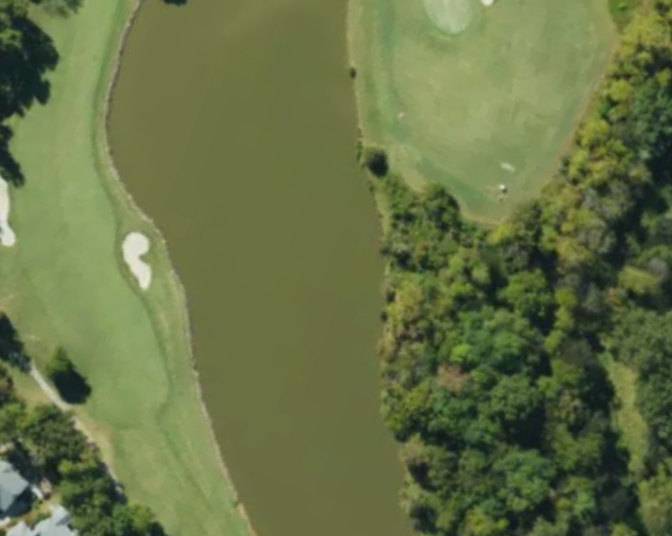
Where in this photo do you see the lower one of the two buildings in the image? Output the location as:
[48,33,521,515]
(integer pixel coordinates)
[6,503,74,536]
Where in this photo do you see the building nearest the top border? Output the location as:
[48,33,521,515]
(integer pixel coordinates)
[0,461,28,514]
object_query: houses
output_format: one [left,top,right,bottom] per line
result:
[0,461,28,514]
[6,503,74,536]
